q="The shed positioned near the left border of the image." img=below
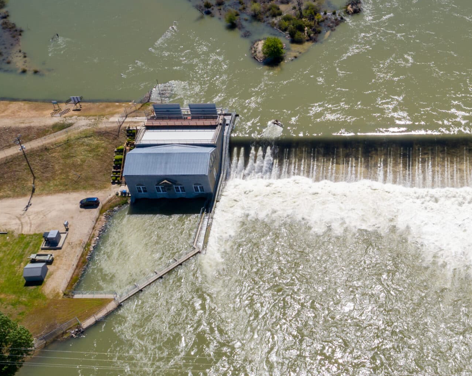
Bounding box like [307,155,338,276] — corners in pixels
[17,264,53,286]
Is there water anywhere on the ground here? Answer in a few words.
Yes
